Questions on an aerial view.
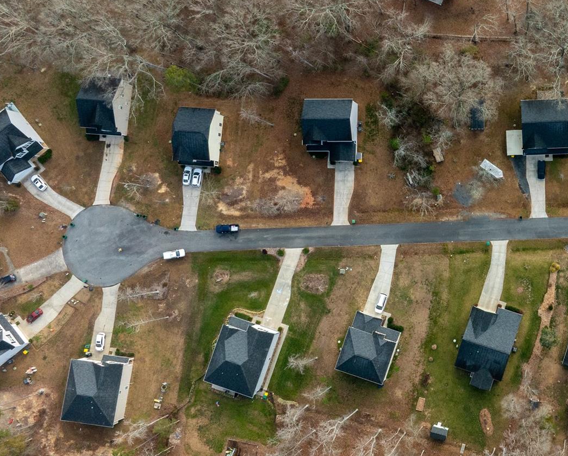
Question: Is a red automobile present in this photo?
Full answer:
Yes, you can see a red automobile in this photo.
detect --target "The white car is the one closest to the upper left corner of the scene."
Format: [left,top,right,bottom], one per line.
[29,174,46,192]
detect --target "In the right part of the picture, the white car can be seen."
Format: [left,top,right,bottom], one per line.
[374,293,387,315]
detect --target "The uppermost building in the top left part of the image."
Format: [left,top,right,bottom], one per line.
[72,77,131,136]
